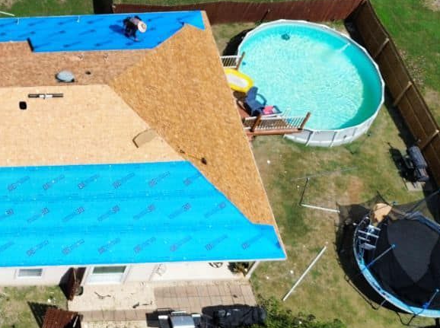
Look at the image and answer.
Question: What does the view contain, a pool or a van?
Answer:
pool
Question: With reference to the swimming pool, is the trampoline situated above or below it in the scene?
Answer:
below it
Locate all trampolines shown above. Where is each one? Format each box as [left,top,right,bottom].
[307,190,440,328]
